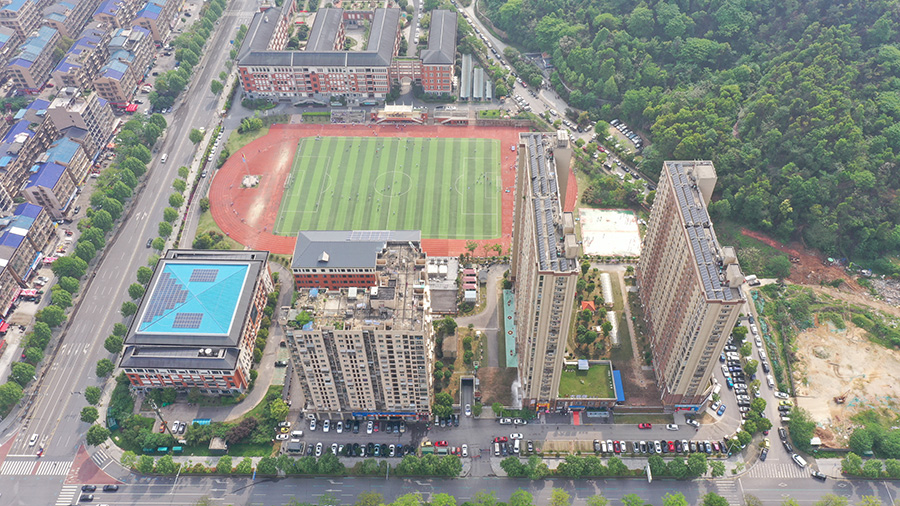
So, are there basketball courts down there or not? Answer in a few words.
Yes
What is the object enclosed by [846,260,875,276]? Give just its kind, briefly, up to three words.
work vehicle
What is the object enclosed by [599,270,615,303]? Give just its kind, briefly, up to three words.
greenhouse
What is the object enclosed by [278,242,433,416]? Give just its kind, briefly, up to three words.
building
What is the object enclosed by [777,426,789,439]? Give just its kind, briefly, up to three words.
vehicle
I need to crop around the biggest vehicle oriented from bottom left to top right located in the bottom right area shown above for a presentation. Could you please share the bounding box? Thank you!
[831,387,854,405]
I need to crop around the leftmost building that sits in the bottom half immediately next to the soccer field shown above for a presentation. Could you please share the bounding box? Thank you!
[115,250,271,392]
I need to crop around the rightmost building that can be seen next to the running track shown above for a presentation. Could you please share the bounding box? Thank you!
[636,154,757,413]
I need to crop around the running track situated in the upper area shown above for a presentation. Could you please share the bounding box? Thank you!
[209,124,579,258]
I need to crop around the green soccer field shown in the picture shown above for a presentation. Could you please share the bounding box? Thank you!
[270,137,503,238]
